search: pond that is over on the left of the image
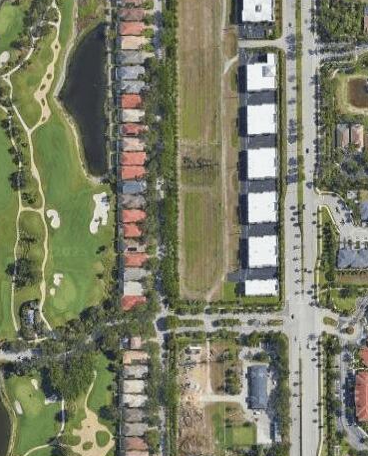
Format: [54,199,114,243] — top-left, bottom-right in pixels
[61,23,106,178]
